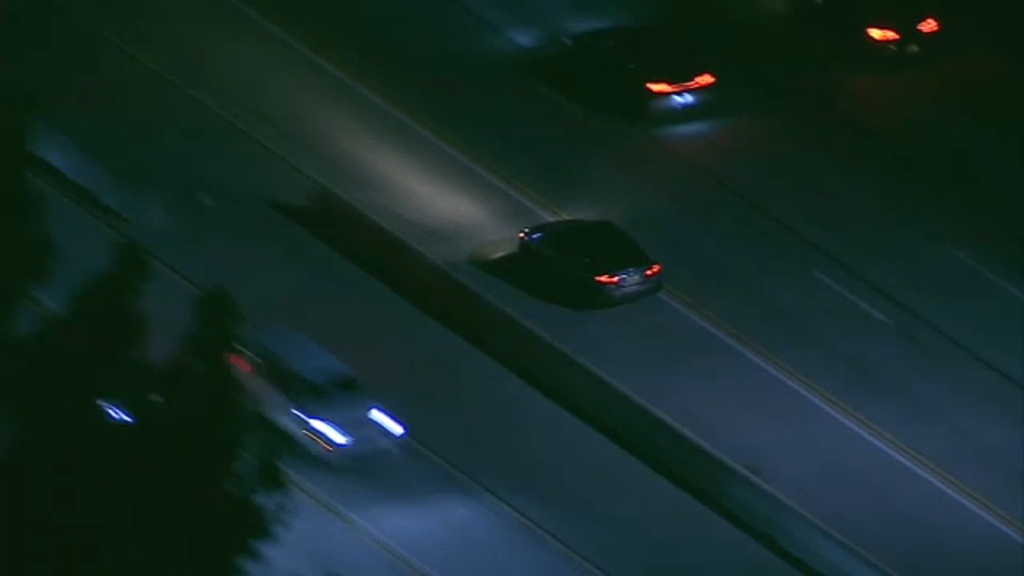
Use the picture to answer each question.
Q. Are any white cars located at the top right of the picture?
No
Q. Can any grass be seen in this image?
No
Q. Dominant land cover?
paved ground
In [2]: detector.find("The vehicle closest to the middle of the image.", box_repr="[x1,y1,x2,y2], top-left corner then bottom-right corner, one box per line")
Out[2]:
[501,218,665,313]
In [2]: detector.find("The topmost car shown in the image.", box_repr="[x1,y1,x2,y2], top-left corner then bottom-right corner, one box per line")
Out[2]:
[783,0,946,67]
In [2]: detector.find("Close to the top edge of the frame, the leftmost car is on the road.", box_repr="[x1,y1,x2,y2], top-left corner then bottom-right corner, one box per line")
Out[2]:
[558,22,719,119]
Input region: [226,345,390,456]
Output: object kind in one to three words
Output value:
car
